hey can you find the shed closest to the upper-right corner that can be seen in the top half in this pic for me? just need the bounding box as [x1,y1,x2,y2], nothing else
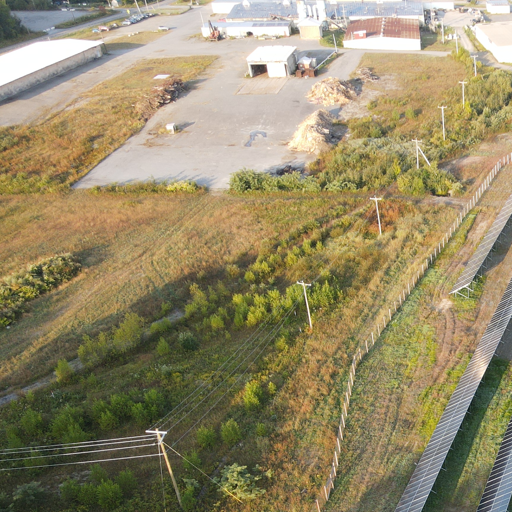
[483,0,510,14]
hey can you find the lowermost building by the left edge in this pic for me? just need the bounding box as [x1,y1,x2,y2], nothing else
[0,38,102,103]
